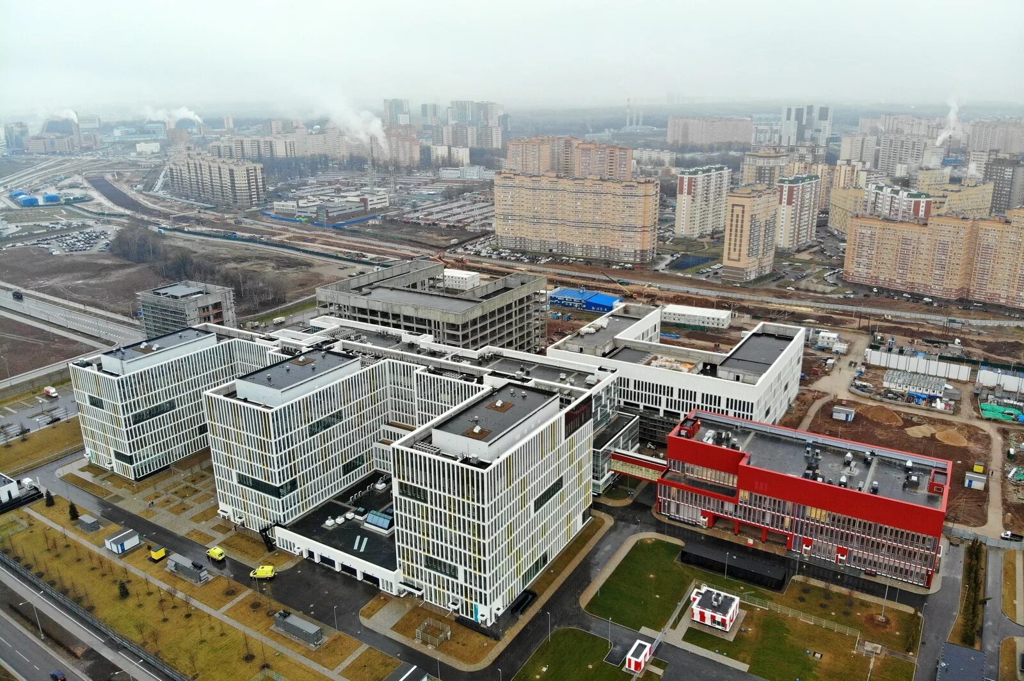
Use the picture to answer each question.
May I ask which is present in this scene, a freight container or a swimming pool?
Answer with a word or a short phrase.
freight container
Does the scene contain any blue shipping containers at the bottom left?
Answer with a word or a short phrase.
No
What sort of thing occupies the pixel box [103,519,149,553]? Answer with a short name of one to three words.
building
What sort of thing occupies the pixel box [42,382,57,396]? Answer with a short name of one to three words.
vehicle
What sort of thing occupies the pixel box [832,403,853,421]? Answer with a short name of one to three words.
shed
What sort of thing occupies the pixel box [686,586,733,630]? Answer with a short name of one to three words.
building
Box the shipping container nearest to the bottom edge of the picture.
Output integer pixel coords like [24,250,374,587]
[268,605,333,649]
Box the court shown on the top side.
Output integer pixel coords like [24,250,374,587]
[669,254,715,270]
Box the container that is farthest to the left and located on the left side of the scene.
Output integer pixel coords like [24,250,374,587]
[164,549,215,587]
